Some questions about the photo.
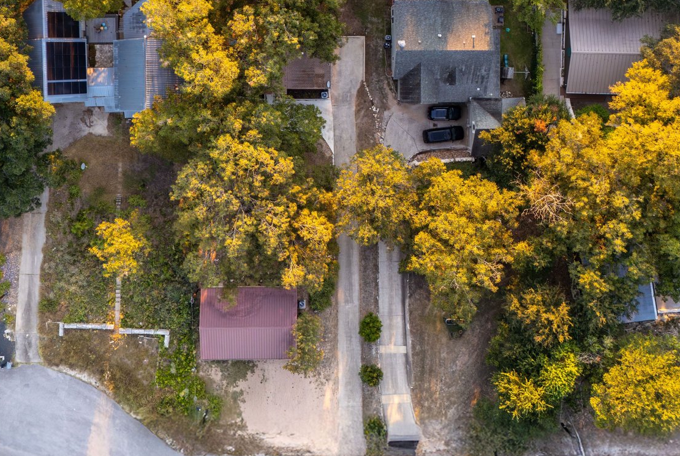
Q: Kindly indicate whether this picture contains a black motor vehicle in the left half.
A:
No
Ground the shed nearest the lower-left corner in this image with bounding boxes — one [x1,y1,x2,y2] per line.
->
[200,284,298,361]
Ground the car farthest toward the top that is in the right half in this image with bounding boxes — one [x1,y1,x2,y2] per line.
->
[427,105,463,123]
